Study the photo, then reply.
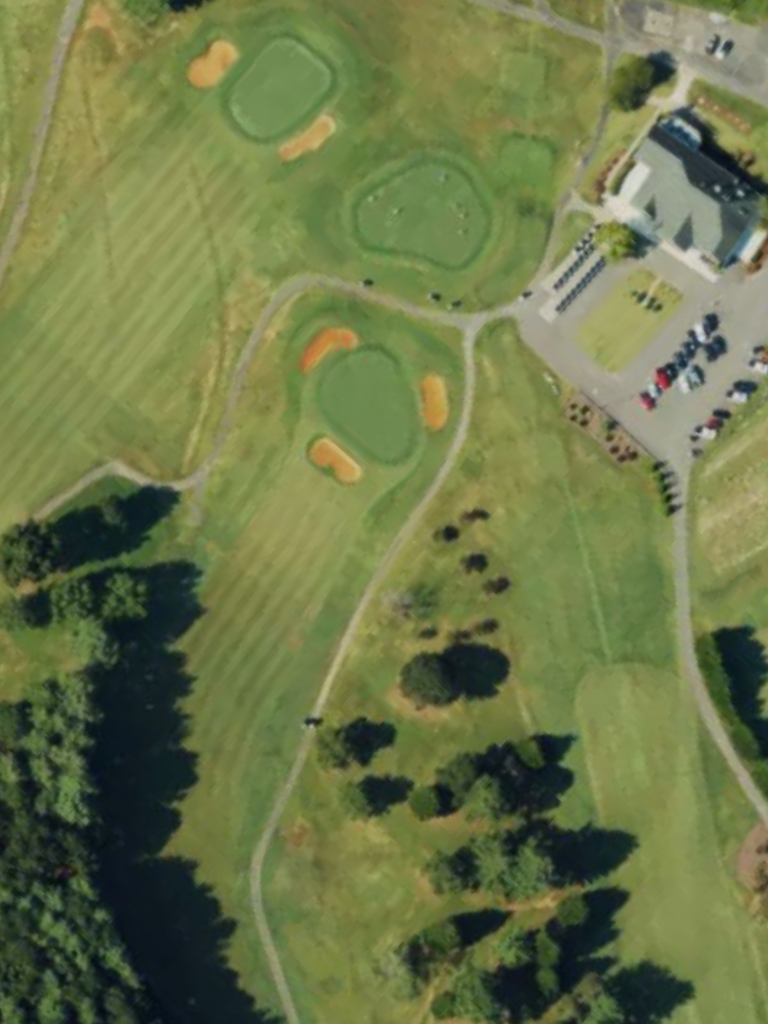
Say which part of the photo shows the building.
top right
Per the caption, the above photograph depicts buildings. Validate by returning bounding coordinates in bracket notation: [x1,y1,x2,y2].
[618,117,766,264]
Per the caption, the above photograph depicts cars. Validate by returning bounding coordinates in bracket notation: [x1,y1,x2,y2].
[645,379,661,399]
[751,361,768,374]
[696,426,717,438]
[708,336,725,357]
[685,366,702,388]
[711,409,732,421]
[758,354,768,364]
[704,35,718,55]
[680,339,696,359]
[672,350,689,371]
[691,323,707,343]
[639,391,655,411]
[715,39,730,59]
[676,373,692,393]
[705,418,725,429]
[654,367,671,389]
[663,361,679,381]
[751,345,768,355]
[685,330,701,350]
[704,311,718,334]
